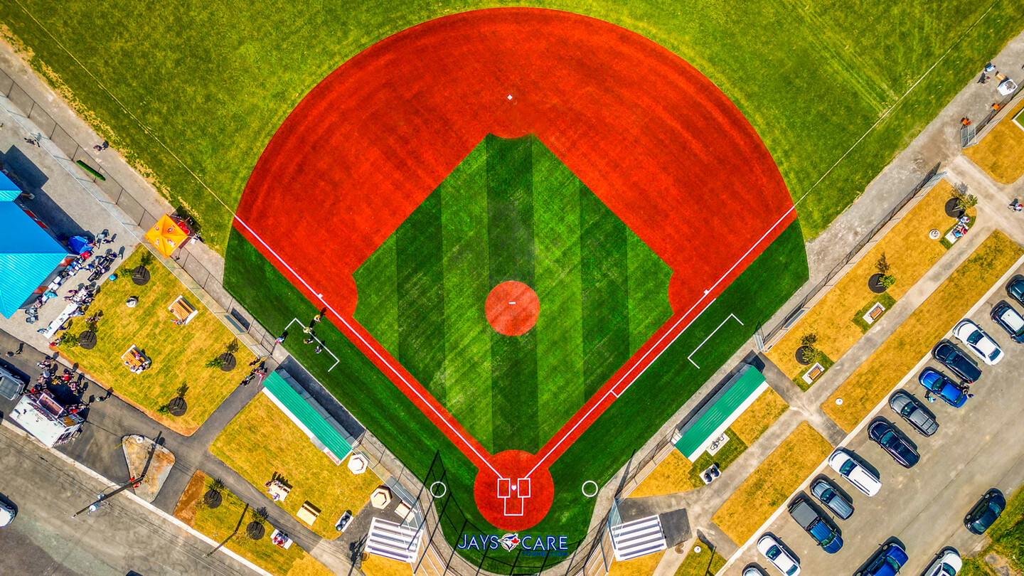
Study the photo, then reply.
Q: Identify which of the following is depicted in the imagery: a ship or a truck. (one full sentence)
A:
It is a truck that can be seen here.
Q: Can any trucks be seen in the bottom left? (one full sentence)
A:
Yes, a truck appears in the bottom left.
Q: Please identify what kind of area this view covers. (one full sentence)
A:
What you see here is a sports ground.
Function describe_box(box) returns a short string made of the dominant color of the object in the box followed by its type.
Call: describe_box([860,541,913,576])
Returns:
blue truck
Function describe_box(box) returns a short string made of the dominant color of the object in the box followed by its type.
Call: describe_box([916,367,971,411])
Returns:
blue car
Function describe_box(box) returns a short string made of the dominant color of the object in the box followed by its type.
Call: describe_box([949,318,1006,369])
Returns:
white car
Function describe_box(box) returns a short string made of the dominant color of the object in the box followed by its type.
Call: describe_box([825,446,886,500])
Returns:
white car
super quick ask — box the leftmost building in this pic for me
[0,161,80,319]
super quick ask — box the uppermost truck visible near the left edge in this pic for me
[0,365,28,401]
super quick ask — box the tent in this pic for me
[145,214,202,259]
